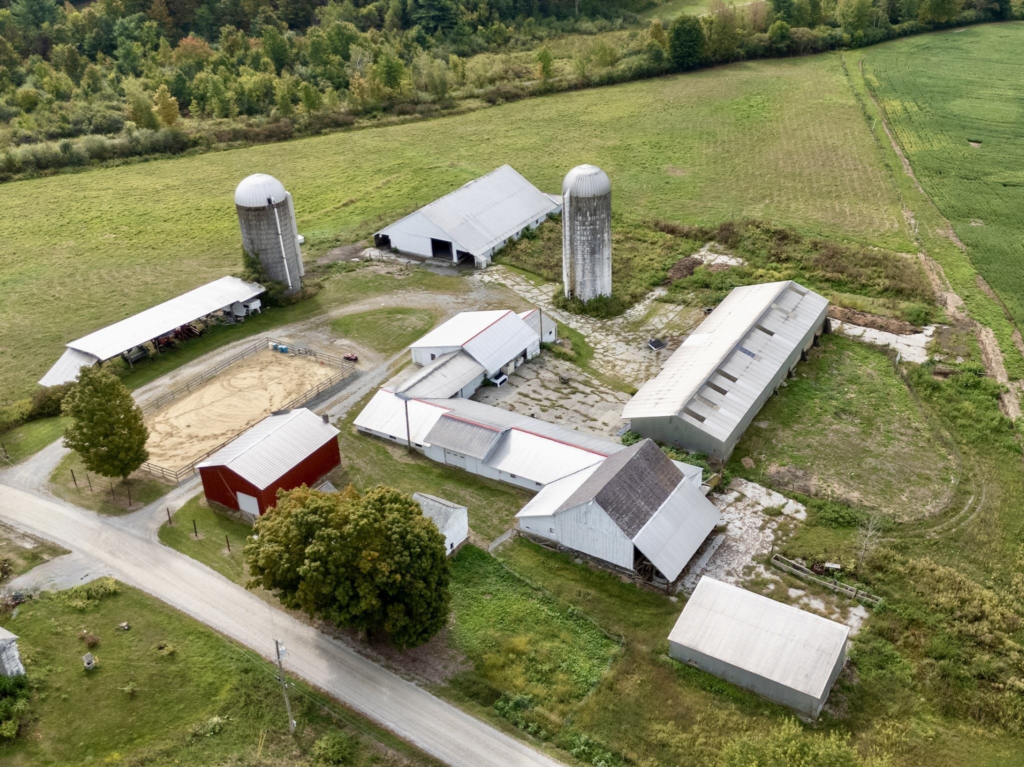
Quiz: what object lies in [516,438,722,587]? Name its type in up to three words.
barn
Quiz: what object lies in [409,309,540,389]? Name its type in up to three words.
building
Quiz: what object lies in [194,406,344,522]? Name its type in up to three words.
barn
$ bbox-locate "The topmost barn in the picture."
[373,163,564,267]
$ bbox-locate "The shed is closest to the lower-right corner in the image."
[666,575,852,715]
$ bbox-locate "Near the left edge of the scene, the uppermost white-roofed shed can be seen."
[39,274,271,389]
